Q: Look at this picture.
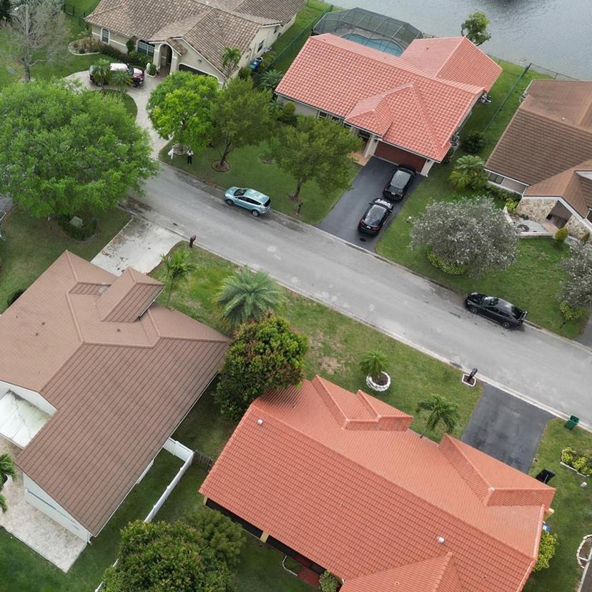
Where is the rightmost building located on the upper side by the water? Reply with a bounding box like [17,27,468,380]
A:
[479,79,592,244]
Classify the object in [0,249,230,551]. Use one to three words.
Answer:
house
